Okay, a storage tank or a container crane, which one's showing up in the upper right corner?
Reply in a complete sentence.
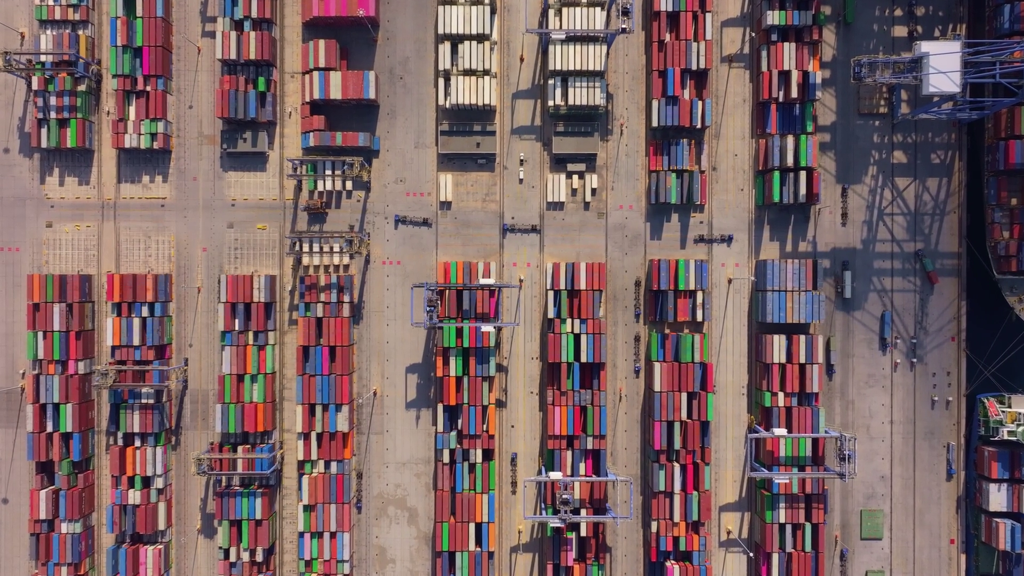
The one visible in the upper right corner is a container crane.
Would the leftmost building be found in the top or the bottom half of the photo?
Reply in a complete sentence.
The leftmost building sits in the top half of the picture.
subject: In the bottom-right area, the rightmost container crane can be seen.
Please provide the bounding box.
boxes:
[748,418,858,483]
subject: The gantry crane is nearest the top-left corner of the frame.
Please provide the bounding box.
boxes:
[0,48,99,88]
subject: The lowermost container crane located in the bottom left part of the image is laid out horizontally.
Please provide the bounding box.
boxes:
[190,438,282,476]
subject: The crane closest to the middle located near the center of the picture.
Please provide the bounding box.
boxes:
[411,279,520,332]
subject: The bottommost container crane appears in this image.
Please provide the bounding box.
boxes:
[524,459,633,527]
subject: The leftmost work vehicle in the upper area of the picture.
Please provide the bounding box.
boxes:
[301,201,327,214]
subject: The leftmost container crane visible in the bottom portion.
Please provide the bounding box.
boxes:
[92,356,187,390]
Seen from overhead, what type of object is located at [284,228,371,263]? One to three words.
container crane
